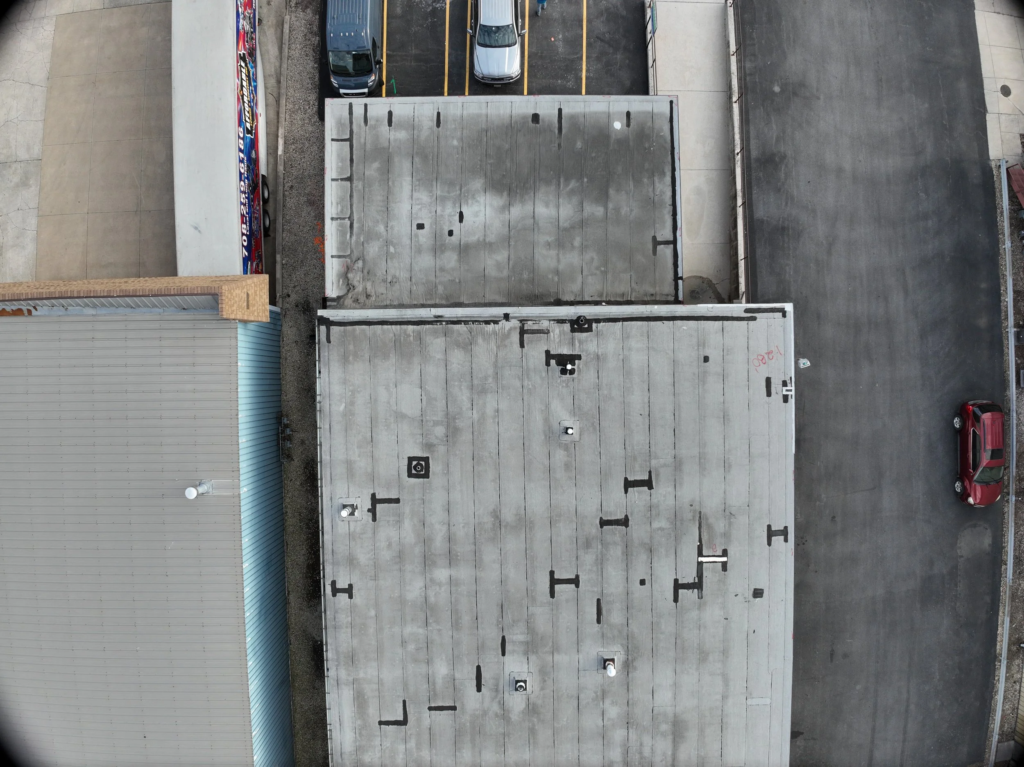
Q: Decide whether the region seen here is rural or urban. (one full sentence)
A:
The area shown here is urban.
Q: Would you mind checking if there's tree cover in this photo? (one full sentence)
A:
No, the picture contains no tree cover.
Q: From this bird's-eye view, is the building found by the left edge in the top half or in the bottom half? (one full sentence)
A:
The building found by the left edge is in the bottom half of the image.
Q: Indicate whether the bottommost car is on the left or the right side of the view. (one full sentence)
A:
You can find the bottommost car on the right side of the picture.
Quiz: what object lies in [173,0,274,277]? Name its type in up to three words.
trailer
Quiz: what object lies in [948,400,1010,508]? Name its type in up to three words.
car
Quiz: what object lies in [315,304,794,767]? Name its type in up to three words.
building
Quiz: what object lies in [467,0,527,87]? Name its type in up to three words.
truck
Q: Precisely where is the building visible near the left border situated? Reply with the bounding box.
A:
[0,271,300,767]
